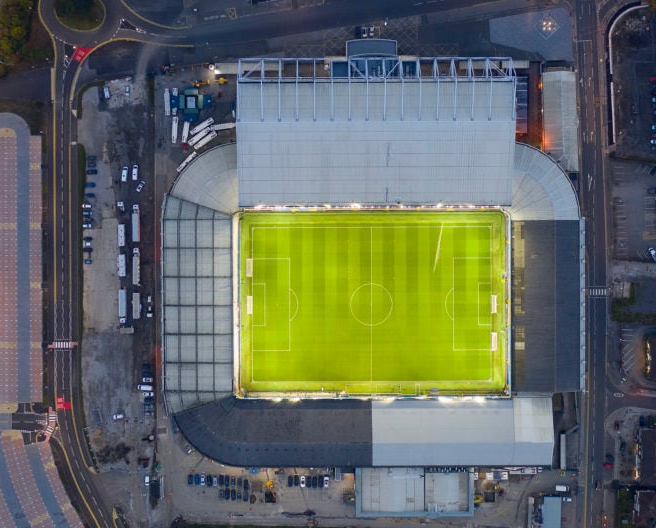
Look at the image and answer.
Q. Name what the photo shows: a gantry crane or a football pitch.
football pitch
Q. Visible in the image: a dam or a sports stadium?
sports stadium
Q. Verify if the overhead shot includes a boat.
No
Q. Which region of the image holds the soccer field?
center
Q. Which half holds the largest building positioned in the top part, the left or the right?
right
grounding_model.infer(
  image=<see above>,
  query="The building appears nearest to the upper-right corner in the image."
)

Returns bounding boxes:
[539,71,579,172]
